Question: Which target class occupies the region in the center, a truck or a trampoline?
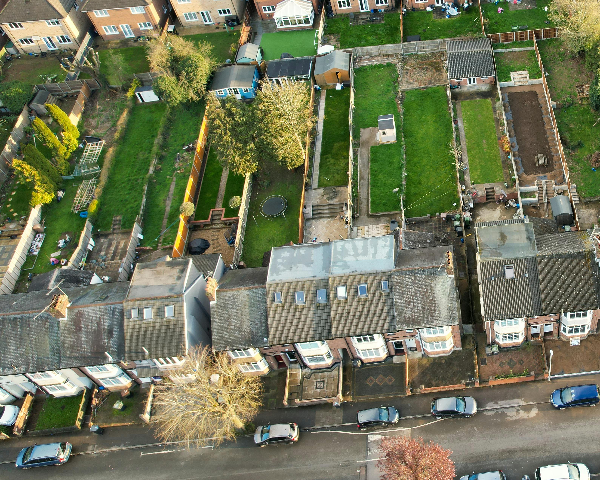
trampoline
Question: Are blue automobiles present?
Yes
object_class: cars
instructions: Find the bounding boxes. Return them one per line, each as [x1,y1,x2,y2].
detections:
[550,384,600,413]
[533,461,591,480]
[431,393,478,424]
[0,403,19,428]
[458,471,507,480]
[13,442,78,473]
[356,404,400,434]
[252,423,302,451]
